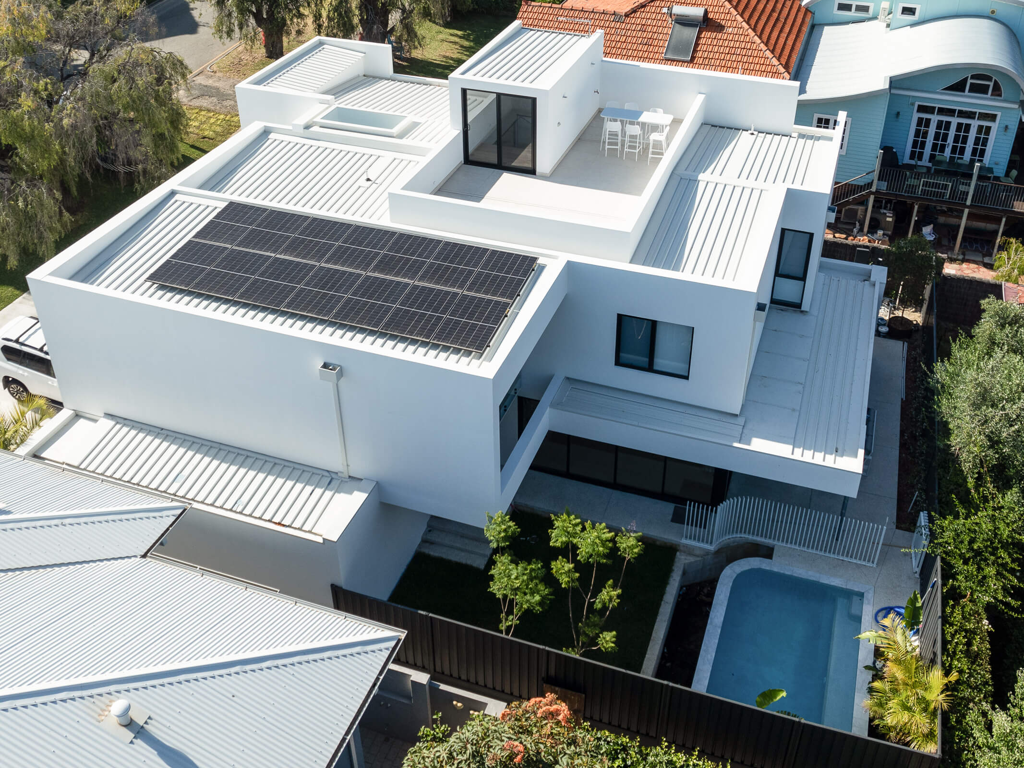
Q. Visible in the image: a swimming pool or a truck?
swimming pool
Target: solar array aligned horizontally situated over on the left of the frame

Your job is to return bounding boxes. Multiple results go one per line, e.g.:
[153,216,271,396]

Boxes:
[144,204,537,349]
